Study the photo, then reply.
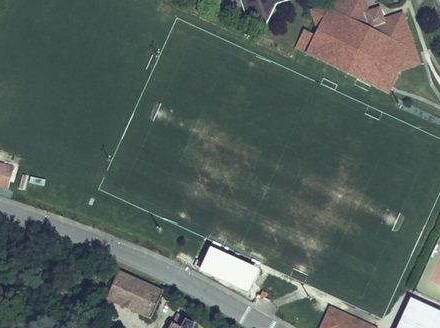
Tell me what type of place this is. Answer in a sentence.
What you see here is a sports ground.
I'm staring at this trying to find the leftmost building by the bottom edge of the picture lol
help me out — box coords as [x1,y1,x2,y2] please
[108,268,161,318]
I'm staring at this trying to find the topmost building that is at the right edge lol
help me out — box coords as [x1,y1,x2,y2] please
[306,0,420,92]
